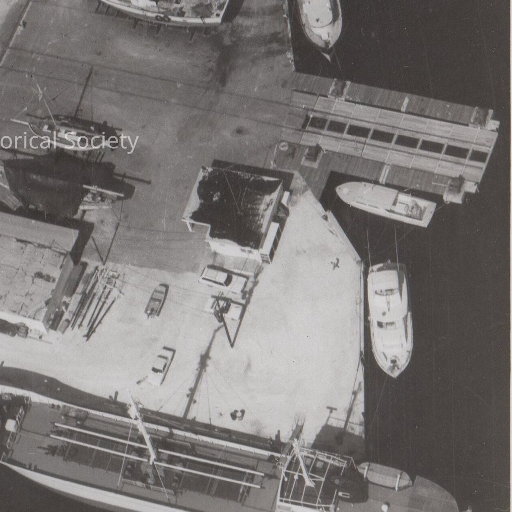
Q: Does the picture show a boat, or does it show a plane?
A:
boat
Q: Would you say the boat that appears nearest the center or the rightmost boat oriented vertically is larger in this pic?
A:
the rightmost boat oriented vertically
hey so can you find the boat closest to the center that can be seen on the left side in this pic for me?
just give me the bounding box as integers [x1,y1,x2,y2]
[144,284,169,319]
